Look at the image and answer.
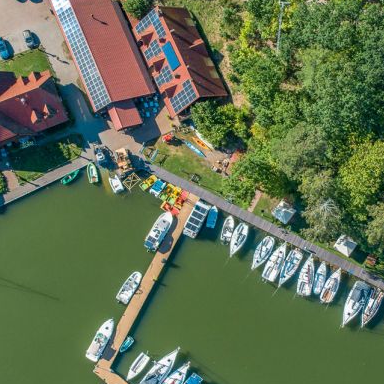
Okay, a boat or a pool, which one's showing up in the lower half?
boat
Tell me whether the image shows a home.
Yes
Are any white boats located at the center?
Yes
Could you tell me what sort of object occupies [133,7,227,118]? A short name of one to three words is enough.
house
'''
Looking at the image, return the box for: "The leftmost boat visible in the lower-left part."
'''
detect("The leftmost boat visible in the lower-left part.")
[86,319,114,365]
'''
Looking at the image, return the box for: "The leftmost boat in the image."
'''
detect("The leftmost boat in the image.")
[61,172,79,185]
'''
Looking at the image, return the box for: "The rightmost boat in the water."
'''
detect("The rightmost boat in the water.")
[362,289,384,326]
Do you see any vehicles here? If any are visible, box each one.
[0,35,9,58]
[20,27,37,48]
